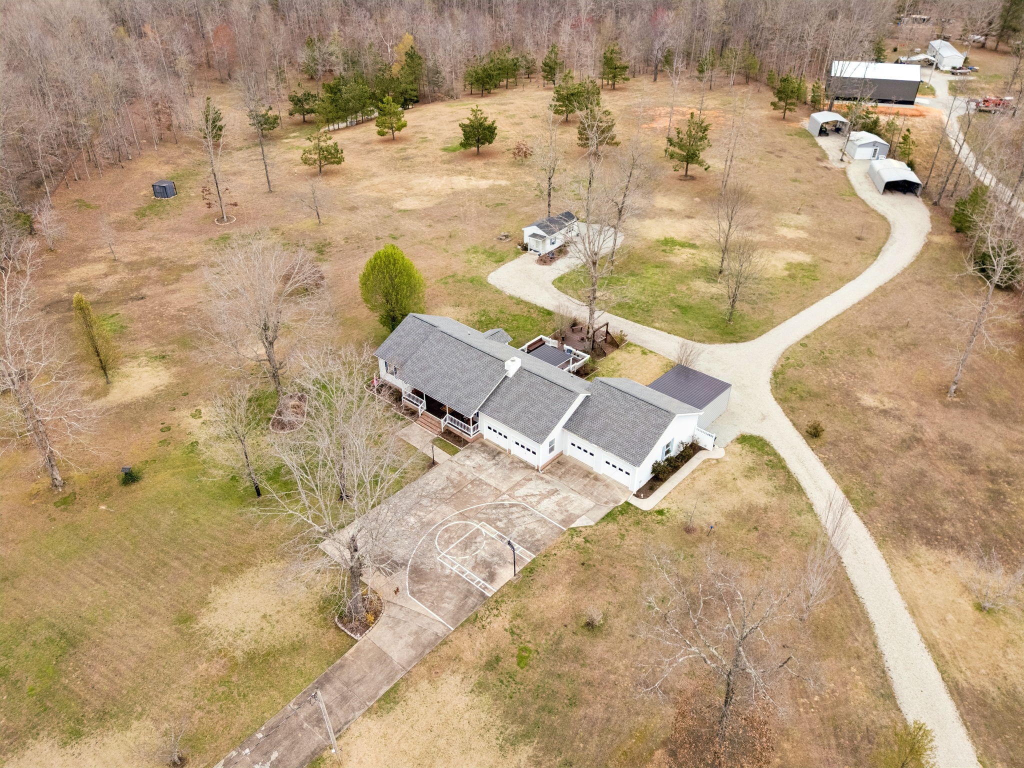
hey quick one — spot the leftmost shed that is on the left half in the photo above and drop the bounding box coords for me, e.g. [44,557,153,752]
[150,180,175,198]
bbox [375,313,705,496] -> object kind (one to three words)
house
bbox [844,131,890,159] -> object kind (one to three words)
building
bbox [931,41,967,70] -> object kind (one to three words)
house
